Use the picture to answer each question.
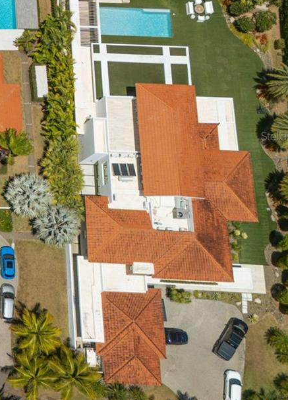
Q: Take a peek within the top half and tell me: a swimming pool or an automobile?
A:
swimming pool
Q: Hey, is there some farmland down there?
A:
No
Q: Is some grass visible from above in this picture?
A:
Yes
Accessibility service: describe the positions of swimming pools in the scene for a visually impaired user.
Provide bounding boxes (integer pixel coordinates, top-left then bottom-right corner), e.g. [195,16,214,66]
[100,7,173,38]
[0,0,17,30]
